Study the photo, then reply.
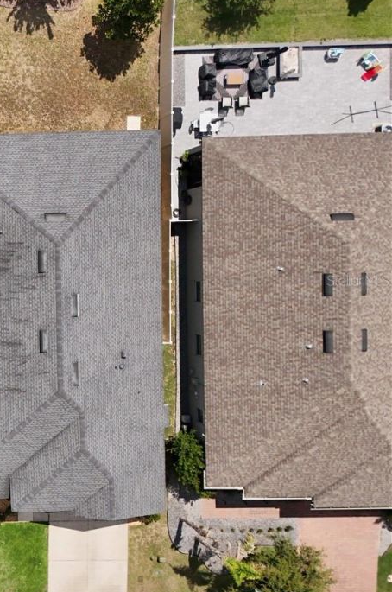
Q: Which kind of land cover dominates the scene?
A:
buildings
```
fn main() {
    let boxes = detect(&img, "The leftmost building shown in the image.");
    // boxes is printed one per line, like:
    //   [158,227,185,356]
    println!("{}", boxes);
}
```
[0,130,168,521]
